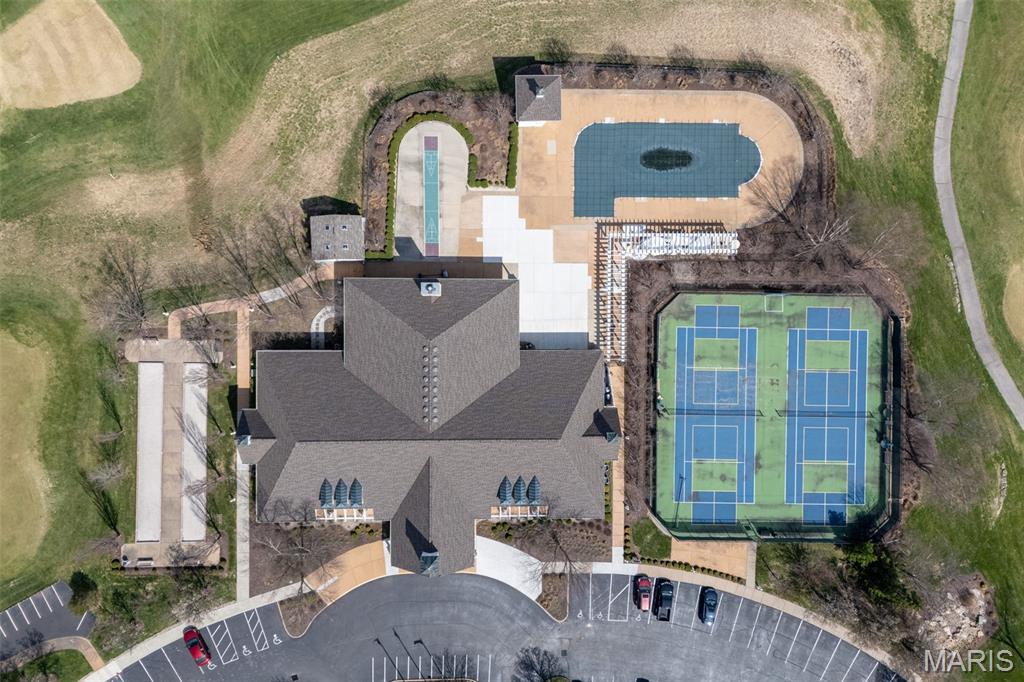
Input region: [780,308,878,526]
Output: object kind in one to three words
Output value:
tennis court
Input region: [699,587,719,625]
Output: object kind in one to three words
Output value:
car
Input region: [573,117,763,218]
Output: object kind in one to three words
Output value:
swimming pool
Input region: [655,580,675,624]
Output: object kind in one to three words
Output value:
vehicle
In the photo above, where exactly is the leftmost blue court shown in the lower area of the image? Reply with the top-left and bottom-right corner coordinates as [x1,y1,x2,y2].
[668,306,765,525]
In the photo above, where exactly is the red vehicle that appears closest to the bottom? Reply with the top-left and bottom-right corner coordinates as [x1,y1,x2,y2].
[185,629,210,668]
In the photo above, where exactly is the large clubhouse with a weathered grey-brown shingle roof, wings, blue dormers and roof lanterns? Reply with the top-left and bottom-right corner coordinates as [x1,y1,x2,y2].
[236,278,620,578]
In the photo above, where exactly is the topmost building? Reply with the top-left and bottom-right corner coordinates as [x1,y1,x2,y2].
[515,74,562,127]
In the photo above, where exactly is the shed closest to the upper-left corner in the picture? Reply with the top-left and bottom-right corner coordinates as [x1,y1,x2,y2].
[311,214,366,262]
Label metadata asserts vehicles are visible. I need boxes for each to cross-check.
[185,629,210,668]
[699,587,719,625]
[655,580,675,624]
[635,577,653,612]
